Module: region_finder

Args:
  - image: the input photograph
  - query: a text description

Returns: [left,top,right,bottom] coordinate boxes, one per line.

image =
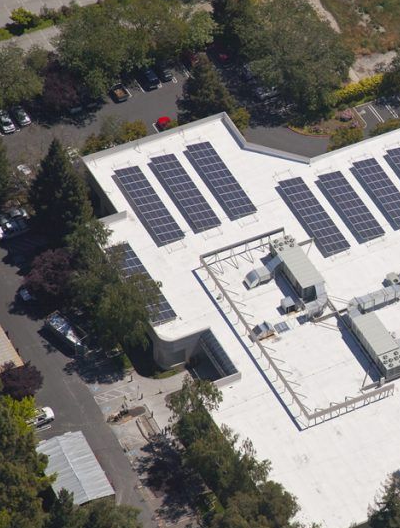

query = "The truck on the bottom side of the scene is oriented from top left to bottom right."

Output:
[42,302,90,356]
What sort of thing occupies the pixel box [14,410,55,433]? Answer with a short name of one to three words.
truck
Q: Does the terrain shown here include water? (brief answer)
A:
No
